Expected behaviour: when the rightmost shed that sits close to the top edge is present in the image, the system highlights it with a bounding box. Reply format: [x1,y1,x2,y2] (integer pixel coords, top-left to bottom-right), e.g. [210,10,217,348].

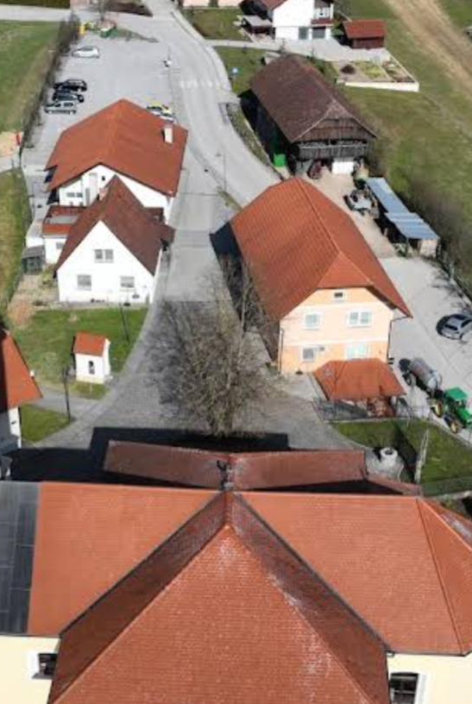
[346,22,387,48]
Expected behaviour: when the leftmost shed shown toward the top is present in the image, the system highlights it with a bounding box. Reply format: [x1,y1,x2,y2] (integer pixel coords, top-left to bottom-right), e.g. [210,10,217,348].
[22,243,50,271]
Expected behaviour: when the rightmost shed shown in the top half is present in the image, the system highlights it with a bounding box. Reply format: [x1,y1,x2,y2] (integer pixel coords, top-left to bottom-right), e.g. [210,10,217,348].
[373,205,442,260]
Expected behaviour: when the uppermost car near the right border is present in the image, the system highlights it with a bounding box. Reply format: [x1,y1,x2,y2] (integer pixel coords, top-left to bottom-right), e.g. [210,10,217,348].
[431,309,472,336]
